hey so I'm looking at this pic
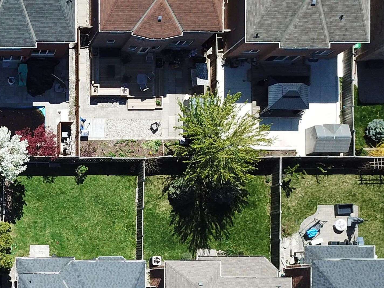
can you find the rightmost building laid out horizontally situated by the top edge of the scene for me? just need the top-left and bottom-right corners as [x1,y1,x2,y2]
[226,0,371,63]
